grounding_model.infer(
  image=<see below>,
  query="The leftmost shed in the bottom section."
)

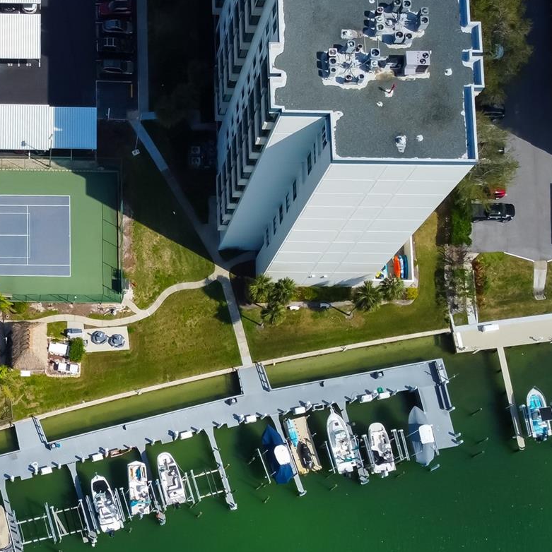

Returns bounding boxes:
[8,319,51,374]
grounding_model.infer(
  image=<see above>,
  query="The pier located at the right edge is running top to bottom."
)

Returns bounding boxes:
[493,347,524,449]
